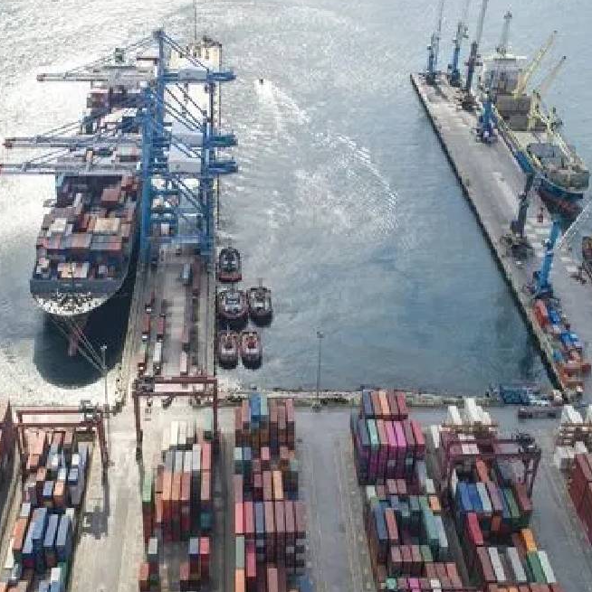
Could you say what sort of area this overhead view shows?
port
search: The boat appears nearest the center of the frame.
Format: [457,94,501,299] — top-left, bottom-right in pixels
[250,284,276,325]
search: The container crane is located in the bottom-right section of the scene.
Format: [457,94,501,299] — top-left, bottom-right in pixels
[429,432,547,520]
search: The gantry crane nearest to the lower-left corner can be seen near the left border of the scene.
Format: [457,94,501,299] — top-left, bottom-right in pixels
[2,399,109,484]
